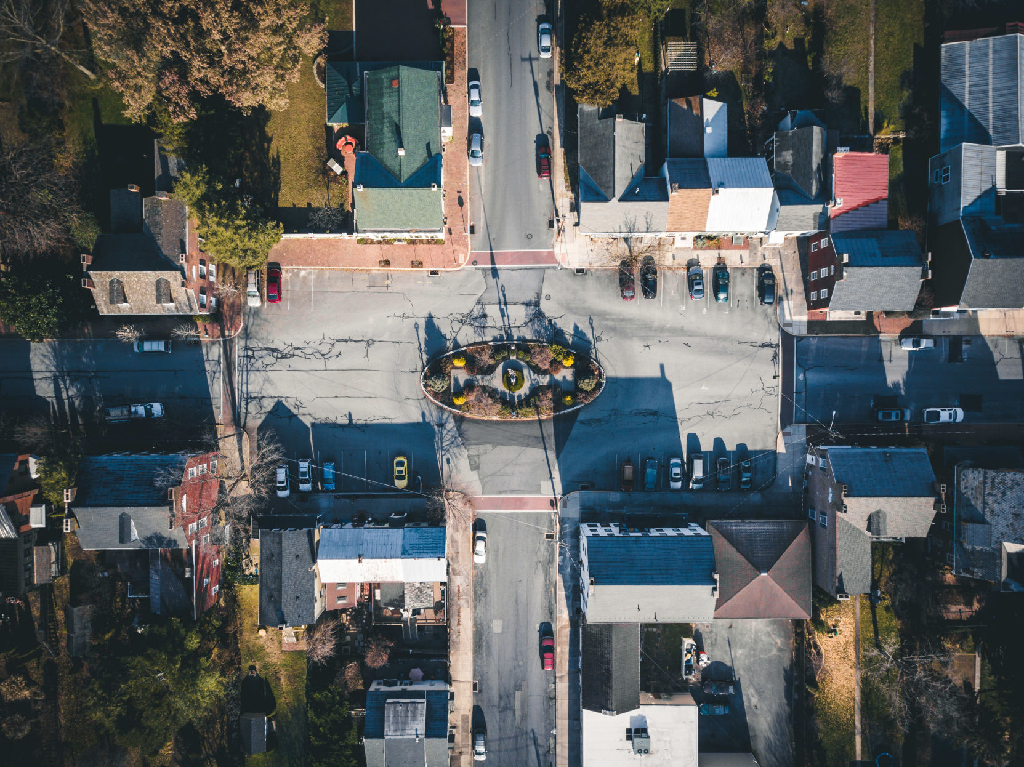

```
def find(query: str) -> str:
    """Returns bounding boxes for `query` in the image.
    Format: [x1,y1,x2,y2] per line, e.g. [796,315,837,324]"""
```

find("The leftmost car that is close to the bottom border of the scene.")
[471,726,488,759]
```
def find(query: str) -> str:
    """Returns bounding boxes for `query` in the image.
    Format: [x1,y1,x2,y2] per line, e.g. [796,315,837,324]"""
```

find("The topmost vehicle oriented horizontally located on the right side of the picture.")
[899,335,935,352]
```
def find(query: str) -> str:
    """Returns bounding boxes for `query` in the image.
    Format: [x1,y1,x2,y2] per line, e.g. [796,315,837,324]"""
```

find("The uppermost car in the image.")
[537,22,554,61]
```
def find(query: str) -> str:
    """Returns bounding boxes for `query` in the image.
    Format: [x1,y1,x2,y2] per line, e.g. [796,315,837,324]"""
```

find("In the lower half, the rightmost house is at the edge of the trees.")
[930,447,1024,595]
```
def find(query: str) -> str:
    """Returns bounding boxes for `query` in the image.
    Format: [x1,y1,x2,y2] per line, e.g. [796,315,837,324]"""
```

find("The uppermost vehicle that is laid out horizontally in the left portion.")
[133,337,174,355]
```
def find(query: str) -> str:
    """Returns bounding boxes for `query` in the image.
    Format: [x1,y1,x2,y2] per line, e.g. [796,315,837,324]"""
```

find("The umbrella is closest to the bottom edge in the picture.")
[409,667,423,681]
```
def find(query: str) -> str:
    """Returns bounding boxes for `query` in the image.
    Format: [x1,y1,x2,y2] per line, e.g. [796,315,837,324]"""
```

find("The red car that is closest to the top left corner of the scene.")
[265,266,283,304]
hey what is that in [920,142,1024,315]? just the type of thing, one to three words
building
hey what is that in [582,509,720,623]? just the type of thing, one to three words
house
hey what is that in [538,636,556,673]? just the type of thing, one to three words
vehicle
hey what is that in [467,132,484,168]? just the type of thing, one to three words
car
